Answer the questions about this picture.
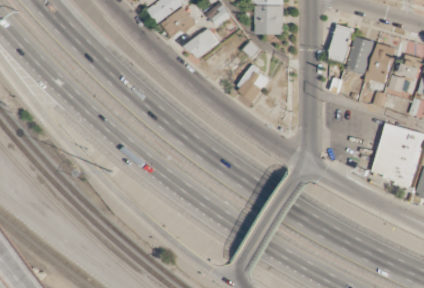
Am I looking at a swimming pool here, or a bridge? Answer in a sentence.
It is a bridge that can be seen here.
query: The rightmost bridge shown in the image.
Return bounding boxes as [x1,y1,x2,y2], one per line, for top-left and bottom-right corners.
[226,166,310,282]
